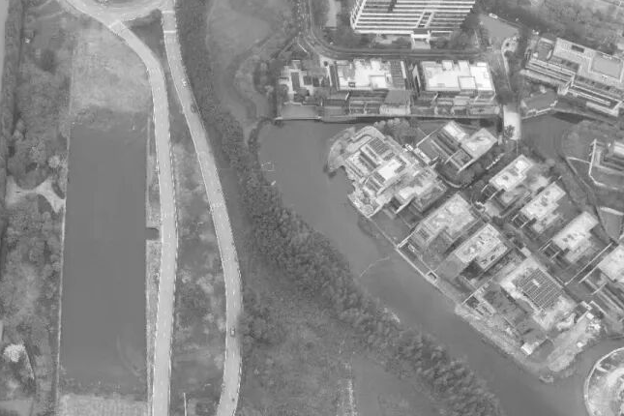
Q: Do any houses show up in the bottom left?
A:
No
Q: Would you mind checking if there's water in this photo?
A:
Yes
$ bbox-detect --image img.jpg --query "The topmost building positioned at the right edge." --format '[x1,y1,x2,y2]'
[519,39,624,118]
